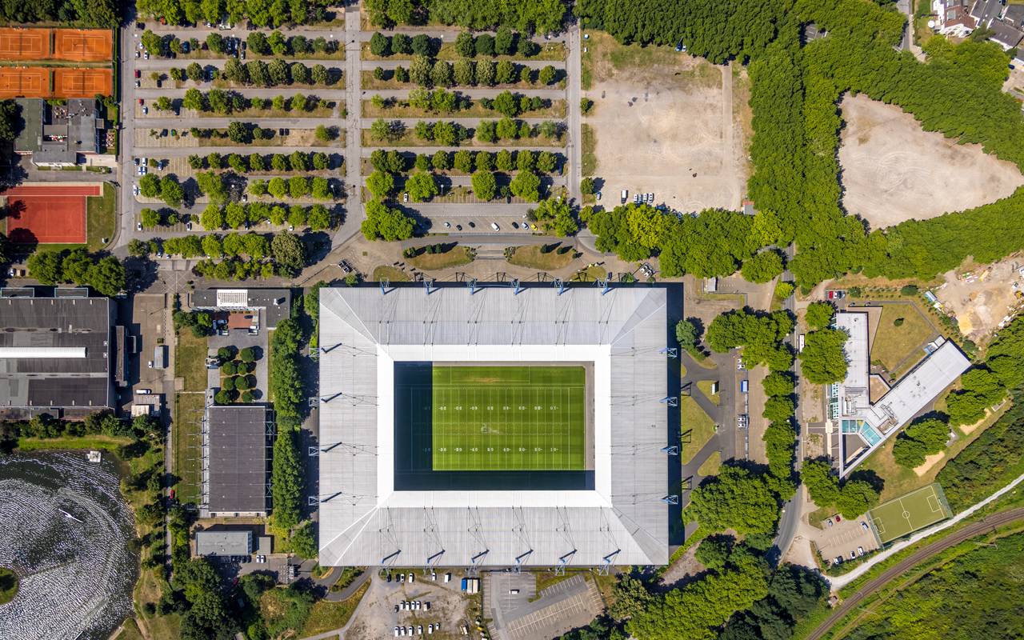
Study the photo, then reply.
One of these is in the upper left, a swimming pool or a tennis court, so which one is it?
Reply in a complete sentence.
Visible in the upper left is a tennis court.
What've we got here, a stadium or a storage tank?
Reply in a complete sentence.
I can see a stadium in this picture.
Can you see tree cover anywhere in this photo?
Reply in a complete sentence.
Yes, the picture does contain tree cover.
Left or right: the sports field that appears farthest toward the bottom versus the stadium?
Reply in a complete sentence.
Looking at the picture, you'll find the sports field that appears farthest toward the bottom to the right of the stadium.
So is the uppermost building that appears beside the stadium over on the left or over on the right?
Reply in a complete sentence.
The uppermost building that appears beside the stadium sits on the left side.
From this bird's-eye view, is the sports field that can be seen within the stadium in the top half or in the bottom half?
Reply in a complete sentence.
The sports field that can be seen within the stadium sits in the bottom half of the picture.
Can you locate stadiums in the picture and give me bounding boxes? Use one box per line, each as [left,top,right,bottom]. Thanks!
[308,277,678,577]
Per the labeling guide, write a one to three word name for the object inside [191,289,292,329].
building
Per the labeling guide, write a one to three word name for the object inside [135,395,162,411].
shed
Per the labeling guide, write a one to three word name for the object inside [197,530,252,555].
building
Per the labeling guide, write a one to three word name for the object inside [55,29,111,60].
tennis court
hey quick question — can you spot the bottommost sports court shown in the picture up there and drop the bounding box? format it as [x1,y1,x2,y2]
[7,196,87,244]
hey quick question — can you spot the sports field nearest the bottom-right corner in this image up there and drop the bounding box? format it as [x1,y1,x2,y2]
[867,482,958,548]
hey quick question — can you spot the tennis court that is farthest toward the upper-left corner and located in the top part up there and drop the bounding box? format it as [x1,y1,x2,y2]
[0,29,50,59]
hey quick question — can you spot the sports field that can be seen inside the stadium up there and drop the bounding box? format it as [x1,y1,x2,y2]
[394,362,595,491]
